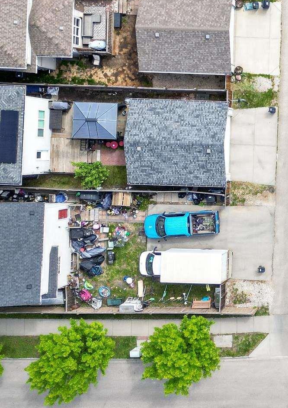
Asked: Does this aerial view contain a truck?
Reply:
Yes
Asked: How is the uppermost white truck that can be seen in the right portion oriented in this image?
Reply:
horizontally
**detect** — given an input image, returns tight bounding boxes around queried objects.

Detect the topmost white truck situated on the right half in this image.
[140,246,235,284]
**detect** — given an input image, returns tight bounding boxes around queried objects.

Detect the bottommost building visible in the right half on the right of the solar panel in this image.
[123,97,240,187]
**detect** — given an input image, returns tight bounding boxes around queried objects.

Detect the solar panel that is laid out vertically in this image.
[0,110,18,163]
